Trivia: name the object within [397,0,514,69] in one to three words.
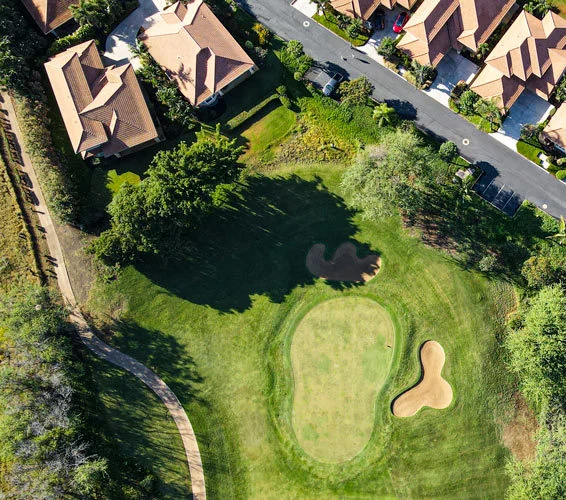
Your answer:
house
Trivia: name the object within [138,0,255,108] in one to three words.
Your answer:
house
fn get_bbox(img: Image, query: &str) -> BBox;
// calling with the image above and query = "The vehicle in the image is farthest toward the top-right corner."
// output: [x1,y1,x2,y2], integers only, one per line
[392,11,410,34]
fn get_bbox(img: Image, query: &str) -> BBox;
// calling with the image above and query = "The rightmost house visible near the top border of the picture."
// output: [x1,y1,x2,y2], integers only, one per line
[470,10,566,113]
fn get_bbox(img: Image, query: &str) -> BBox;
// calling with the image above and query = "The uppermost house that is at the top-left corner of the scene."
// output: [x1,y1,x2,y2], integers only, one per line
[26,0,84,37]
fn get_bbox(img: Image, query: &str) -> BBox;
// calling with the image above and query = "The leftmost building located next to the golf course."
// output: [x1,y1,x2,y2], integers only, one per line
[45,40,159,157]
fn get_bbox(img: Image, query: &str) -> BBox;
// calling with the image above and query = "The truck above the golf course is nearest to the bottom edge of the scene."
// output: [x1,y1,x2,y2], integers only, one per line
[322,70,344,97]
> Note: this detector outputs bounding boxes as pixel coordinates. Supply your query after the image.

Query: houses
[45,40,159,157]
[540,104,566,158]
[138,0,255,108]
[318,0,417,20]
[26,0,84,37]
[470,10,566,113]
[397,0,514,69]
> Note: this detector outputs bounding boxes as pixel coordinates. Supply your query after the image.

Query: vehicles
[392,11,410,34]
[373,8,386,33]
[322,70,344,97]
